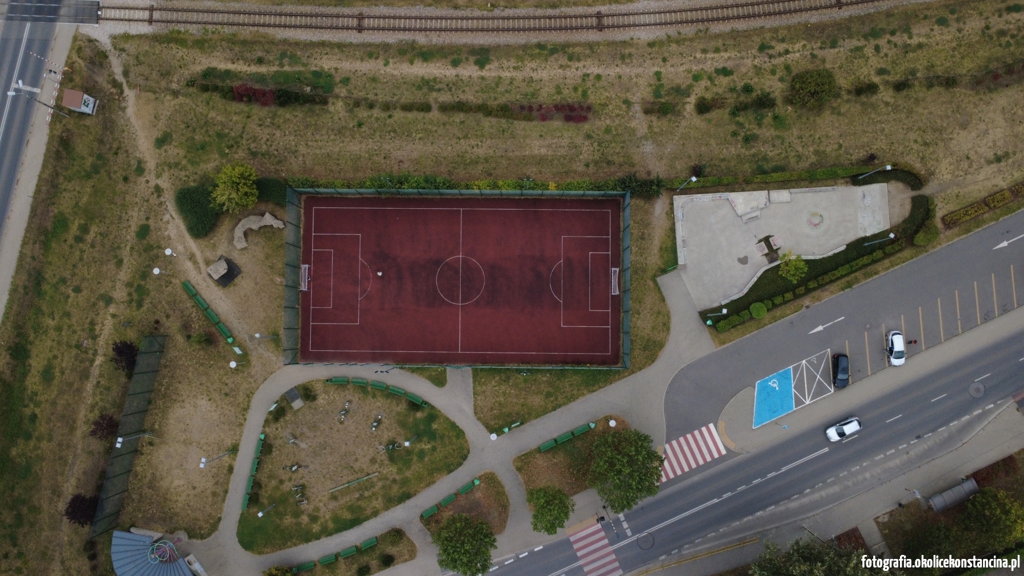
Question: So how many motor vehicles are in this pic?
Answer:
3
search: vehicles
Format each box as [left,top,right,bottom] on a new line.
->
[831,354,852,388]
[826,416,863,441]
[881,331,908,366]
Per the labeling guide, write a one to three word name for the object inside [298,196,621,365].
sports field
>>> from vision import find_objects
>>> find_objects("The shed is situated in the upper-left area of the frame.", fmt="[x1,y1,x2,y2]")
[62,89,100,115]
